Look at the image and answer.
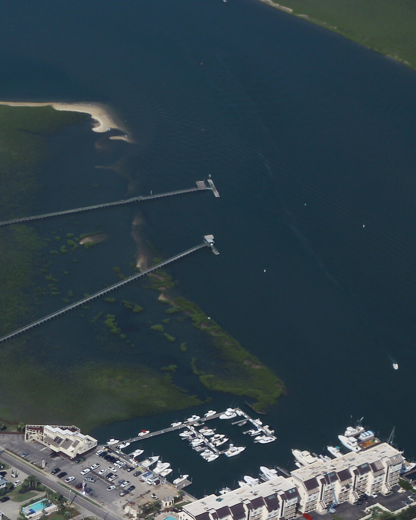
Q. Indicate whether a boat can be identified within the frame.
Yes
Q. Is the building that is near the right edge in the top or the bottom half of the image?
bottom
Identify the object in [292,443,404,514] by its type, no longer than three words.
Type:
building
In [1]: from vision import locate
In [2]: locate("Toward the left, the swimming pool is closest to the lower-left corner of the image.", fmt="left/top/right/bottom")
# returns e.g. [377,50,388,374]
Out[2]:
[22,498,55,516]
